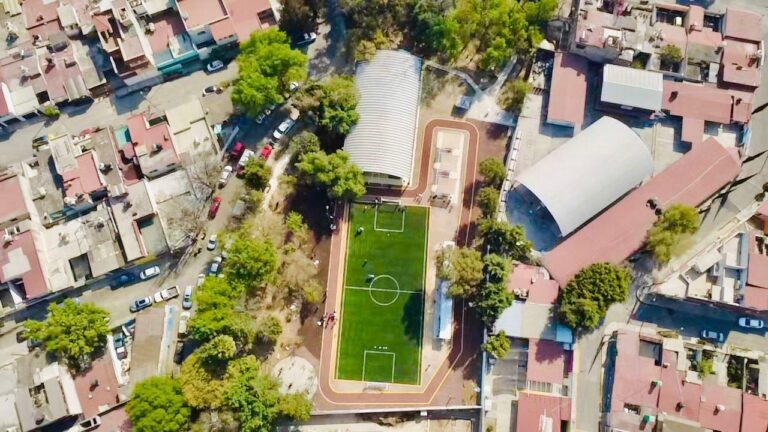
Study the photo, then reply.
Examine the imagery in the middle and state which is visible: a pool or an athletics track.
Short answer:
athletics track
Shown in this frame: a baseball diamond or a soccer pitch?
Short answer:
soccer pitch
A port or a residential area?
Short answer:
residential area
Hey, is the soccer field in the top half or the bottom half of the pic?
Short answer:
bottom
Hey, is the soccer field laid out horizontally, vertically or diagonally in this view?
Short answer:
vertically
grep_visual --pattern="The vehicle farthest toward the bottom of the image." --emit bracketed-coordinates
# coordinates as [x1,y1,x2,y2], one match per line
[64,412,100,432]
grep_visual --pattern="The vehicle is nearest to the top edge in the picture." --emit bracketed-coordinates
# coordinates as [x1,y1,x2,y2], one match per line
[295,32,316,45]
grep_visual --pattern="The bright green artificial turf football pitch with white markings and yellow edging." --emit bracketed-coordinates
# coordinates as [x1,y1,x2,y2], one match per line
[333,203,430,387]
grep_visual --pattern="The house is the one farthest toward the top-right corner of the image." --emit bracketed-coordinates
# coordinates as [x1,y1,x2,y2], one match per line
[714,9,763,45]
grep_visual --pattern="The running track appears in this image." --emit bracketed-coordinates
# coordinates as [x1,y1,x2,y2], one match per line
[320,118,479,404]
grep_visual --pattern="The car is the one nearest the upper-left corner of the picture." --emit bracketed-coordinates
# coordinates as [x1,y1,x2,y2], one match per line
[30,136,50,148]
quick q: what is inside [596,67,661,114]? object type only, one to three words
building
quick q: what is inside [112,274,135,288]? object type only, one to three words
vehicle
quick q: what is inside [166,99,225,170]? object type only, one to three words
house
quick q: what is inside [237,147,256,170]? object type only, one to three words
vehicle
